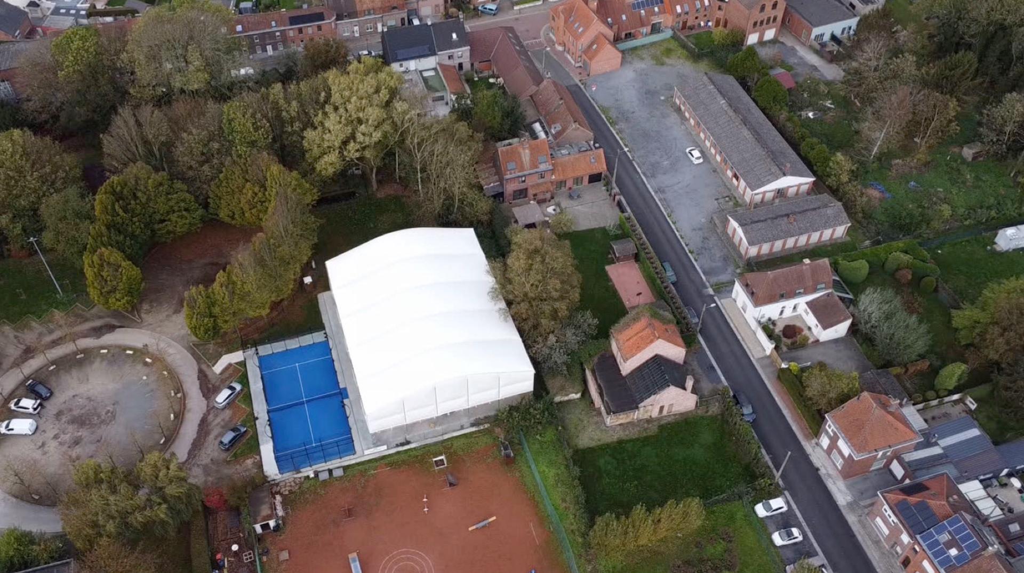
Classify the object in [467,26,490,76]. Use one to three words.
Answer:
house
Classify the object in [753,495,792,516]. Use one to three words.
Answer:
car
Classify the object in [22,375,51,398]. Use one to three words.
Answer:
car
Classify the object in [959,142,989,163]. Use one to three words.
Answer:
shed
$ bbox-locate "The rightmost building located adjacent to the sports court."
[326,226,531,432]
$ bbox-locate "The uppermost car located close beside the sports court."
[210,378,243,407]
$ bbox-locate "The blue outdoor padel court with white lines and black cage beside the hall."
[248,326,356,474]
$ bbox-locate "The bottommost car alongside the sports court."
[212,421,248,450]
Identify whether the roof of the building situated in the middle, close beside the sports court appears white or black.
white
